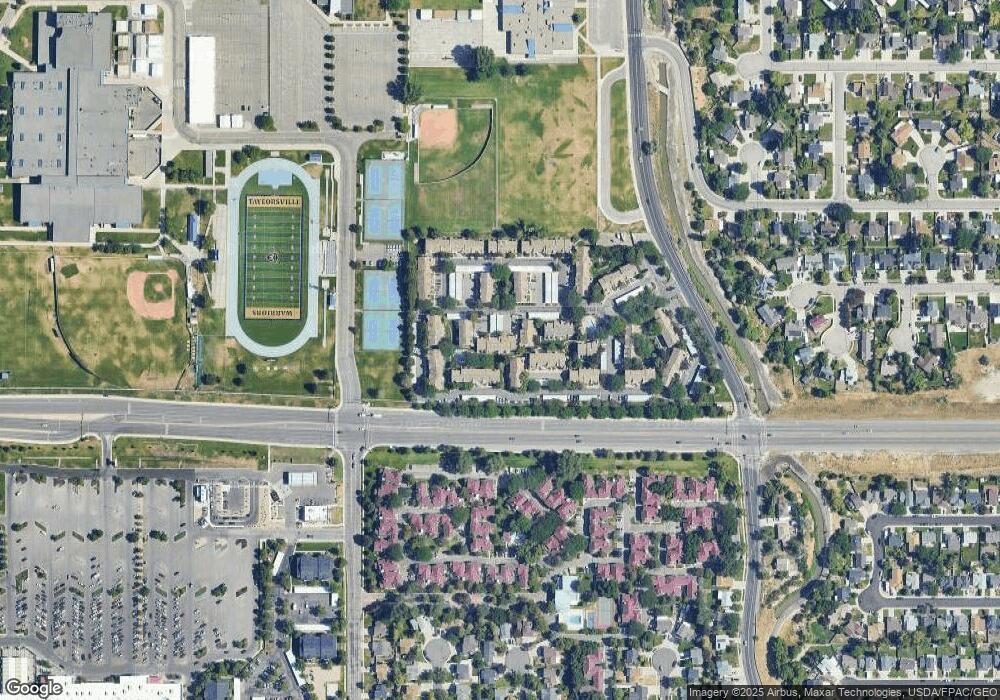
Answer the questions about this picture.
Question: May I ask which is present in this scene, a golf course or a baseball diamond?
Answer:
baseball diamond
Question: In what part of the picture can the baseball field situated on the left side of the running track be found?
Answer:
left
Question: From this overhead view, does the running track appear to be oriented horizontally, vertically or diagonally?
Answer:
vertically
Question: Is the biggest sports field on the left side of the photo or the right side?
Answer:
left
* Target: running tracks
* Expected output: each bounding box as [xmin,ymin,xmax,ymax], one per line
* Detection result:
[227,159,320,358]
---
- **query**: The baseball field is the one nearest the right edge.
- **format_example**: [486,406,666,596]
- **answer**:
[418,109,457,147]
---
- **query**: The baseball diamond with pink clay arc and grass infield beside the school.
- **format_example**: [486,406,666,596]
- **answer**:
[127,268,178,318]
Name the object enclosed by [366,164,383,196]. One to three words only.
tennis court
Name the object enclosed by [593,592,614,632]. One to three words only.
sports court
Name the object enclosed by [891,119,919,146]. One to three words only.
house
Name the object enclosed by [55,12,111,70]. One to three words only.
building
